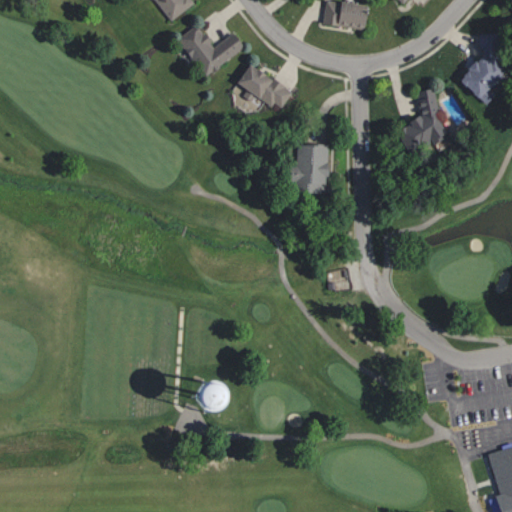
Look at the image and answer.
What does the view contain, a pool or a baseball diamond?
pool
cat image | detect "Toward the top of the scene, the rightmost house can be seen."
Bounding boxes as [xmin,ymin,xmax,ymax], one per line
[460,59,502,106]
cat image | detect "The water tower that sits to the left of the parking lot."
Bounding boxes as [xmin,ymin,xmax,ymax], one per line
[191,378,232,414]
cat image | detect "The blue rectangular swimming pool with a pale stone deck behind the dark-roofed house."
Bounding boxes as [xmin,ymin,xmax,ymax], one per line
[438,93,469,128]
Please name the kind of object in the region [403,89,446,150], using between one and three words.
house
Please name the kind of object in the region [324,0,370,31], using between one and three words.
house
